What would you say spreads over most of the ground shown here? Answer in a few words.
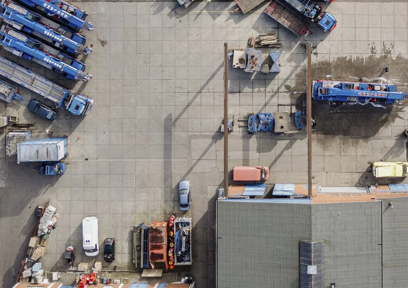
paved ground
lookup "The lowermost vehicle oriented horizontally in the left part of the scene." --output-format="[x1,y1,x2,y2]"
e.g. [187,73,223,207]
[39,162,69,174]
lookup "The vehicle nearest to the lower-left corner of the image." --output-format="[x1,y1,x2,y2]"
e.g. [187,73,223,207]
[63,243,76,268]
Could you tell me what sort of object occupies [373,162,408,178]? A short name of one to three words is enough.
vehicle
